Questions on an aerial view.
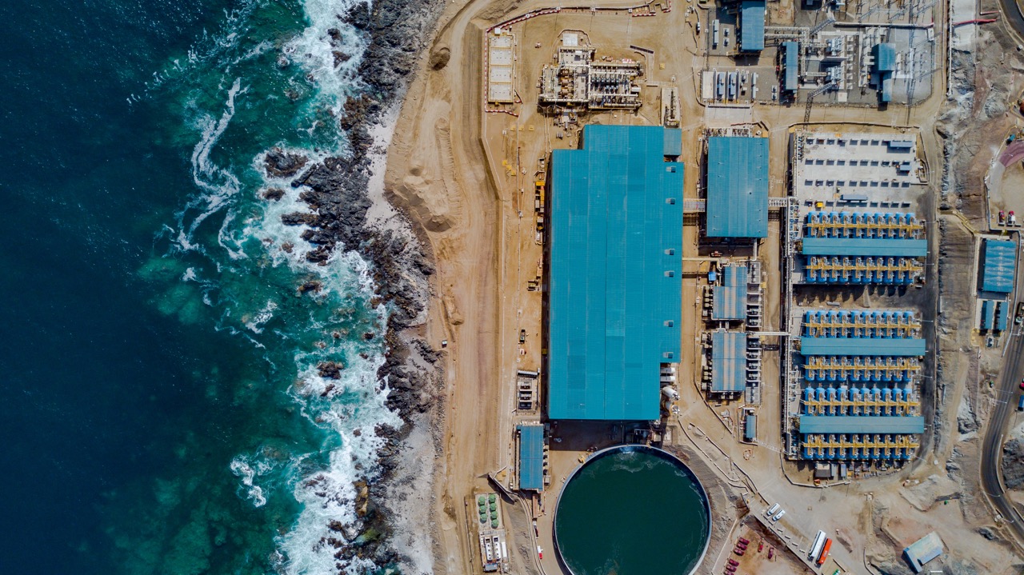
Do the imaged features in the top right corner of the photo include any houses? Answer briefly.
Yes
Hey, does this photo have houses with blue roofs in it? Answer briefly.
Yes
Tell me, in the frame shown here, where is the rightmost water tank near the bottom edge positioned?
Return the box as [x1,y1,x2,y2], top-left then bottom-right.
[553,442,712,575]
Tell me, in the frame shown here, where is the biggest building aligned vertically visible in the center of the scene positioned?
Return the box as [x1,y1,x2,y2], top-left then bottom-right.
[547,125,684,420]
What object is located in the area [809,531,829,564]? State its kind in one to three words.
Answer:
bus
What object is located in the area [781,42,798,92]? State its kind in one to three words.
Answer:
building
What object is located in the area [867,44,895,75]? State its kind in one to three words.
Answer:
house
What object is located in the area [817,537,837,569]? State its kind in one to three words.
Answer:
bus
